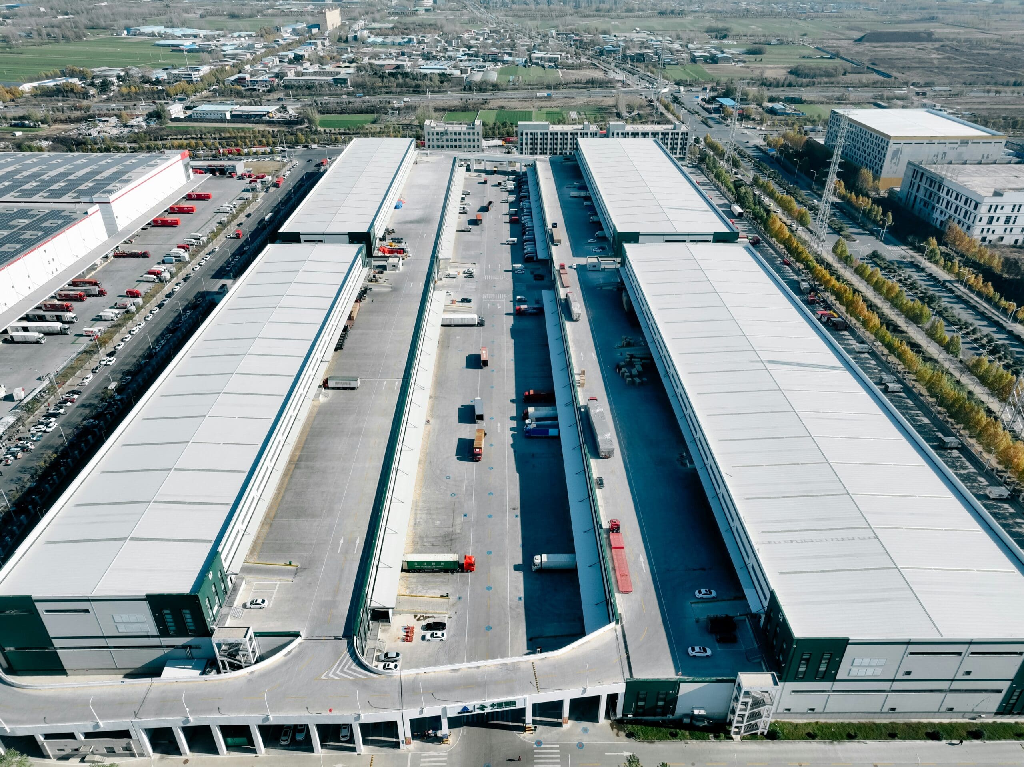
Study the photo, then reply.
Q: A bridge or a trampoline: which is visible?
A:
bridge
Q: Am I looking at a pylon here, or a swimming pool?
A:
pylon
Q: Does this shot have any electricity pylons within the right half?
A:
Yes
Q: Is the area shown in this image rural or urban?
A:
urban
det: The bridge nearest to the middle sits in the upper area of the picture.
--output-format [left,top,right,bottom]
[418,149,537,176]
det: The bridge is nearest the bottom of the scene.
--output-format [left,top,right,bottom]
[0,619,630,767]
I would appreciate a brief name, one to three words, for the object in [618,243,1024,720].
warehouse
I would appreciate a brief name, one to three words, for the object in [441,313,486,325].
vehicle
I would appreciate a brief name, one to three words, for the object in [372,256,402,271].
shed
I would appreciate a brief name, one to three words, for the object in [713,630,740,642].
vehicle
